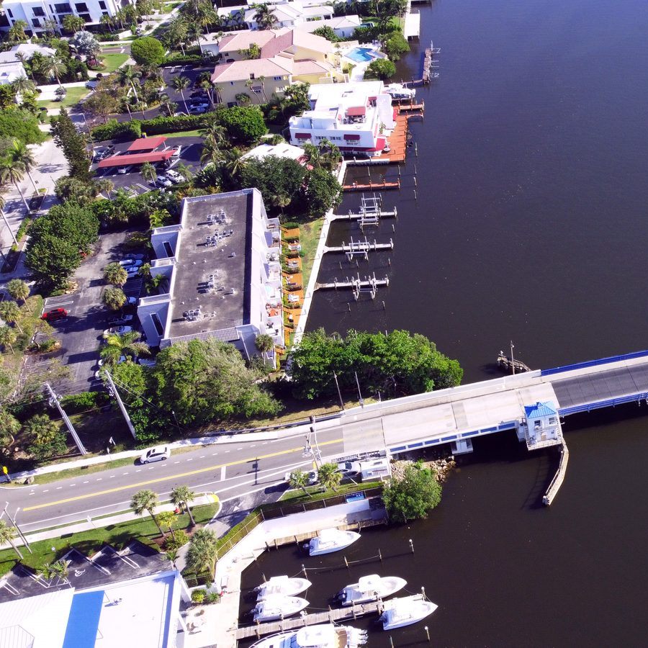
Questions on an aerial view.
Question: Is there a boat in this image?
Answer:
Yes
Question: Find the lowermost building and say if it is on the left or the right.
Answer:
left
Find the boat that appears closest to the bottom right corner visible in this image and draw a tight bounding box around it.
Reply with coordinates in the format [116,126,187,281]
[377,598,439,636]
